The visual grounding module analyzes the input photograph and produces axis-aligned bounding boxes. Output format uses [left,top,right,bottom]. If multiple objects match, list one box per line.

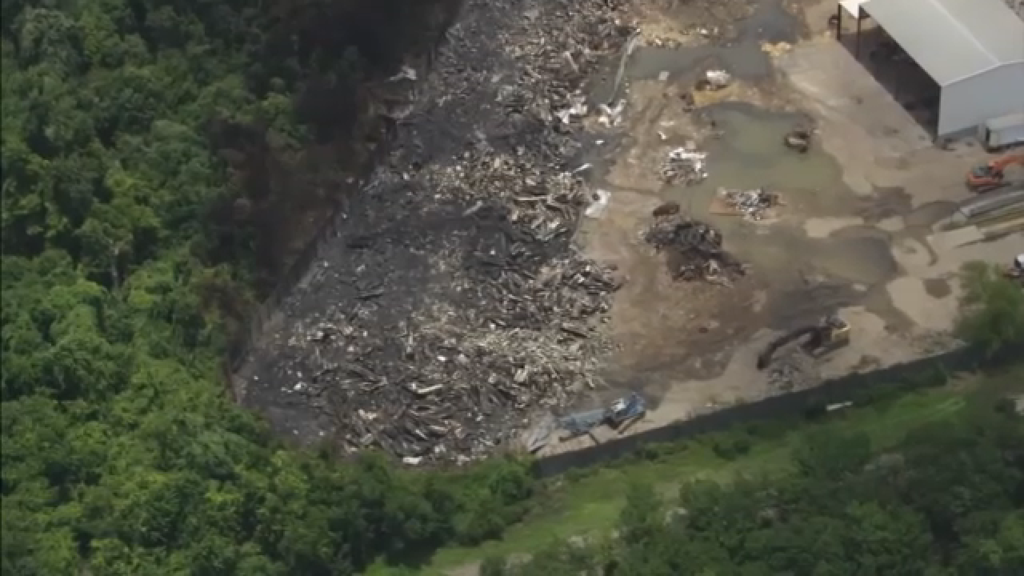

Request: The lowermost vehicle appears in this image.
[758,319,858,369]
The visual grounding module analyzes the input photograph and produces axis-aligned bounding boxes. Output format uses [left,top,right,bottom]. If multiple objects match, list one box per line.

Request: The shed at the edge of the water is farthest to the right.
[838,0,1024,141]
